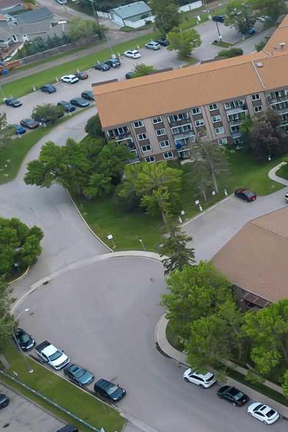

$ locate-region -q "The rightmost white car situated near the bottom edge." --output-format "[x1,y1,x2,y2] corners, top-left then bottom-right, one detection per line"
[247,404,280,426]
